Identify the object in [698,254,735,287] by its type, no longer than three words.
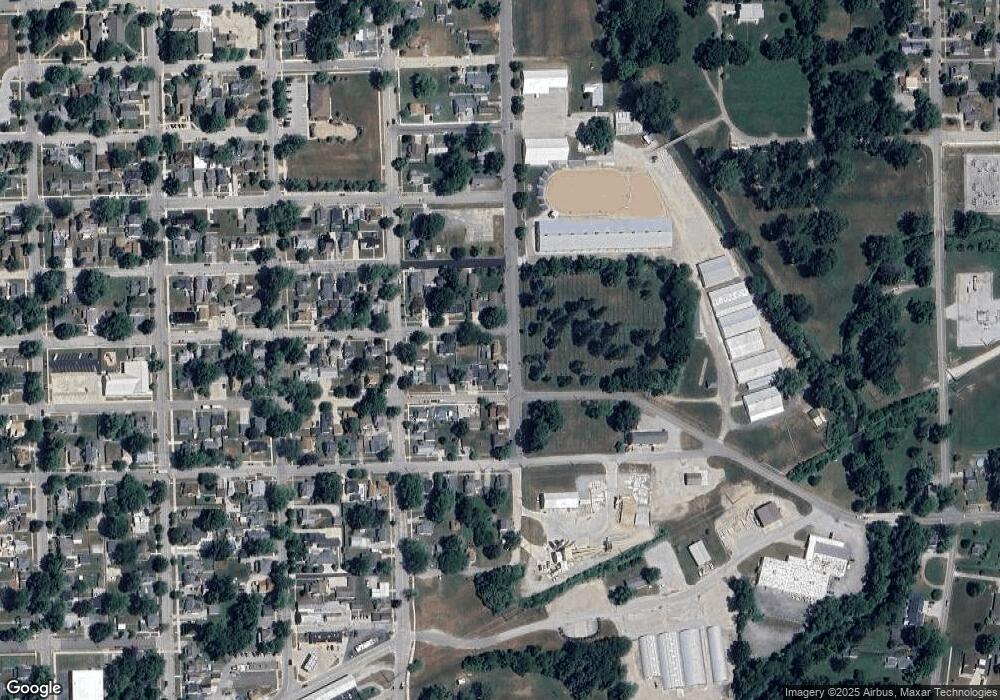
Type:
barn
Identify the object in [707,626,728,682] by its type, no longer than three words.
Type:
shed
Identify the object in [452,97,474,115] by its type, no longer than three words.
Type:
house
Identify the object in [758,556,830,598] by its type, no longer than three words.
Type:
building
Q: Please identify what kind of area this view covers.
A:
residential area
